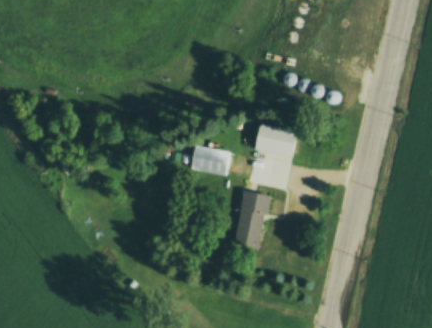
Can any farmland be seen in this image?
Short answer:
Yes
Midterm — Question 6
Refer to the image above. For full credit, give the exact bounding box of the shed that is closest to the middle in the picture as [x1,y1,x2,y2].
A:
[191,146,232,176]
